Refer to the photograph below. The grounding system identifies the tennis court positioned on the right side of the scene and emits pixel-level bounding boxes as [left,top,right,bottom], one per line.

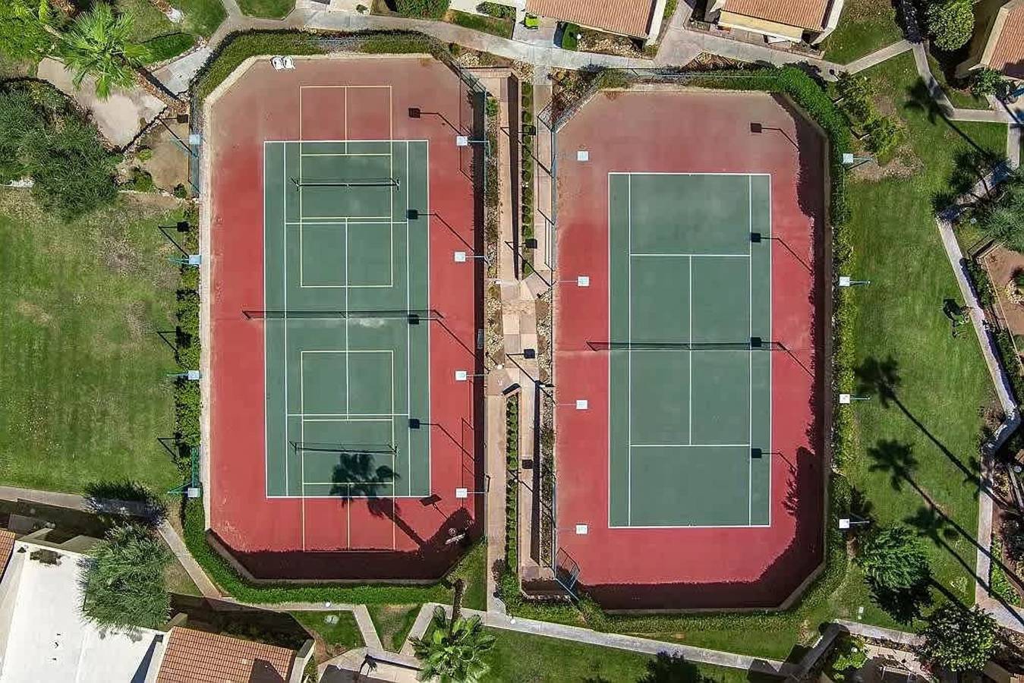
[557,92,824,609]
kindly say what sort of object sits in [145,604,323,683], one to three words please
house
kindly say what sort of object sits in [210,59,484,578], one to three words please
tennis court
